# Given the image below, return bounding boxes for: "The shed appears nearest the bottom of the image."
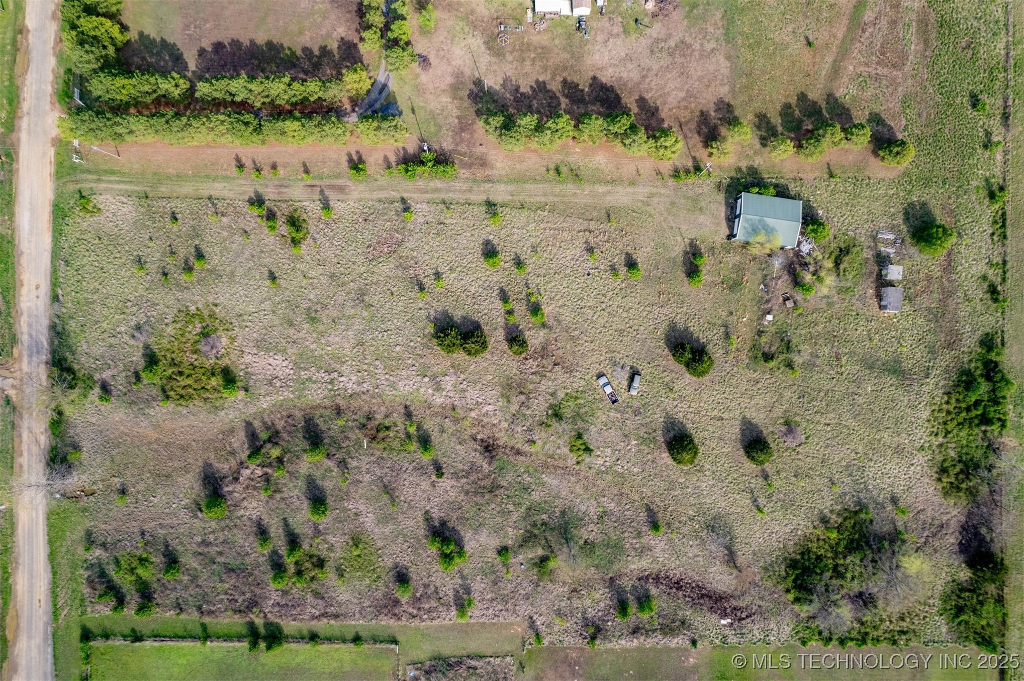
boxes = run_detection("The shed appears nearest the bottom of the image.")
[875,289,901,314]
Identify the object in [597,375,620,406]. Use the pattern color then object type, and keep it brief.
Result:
white truck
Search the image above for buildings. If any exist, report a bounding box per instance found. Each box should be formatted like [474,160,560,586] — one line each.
[731,192,803,248]
[875,289,901,314]
[573,0,590,21]
[535,0,572,15]
[876,265,902,280]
